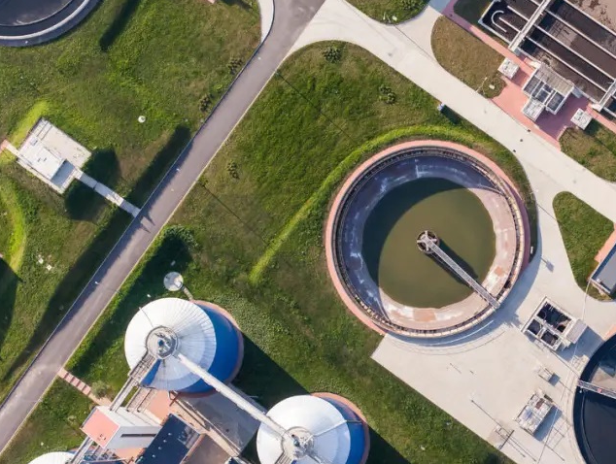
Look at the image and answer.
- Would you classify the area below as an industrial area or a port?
industrial area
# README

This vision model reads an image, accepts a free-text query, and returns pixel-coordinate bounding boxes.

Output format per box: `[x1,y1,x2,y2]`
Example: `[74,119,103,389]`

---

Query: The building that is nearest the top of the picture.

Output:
[522,59,578,121]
